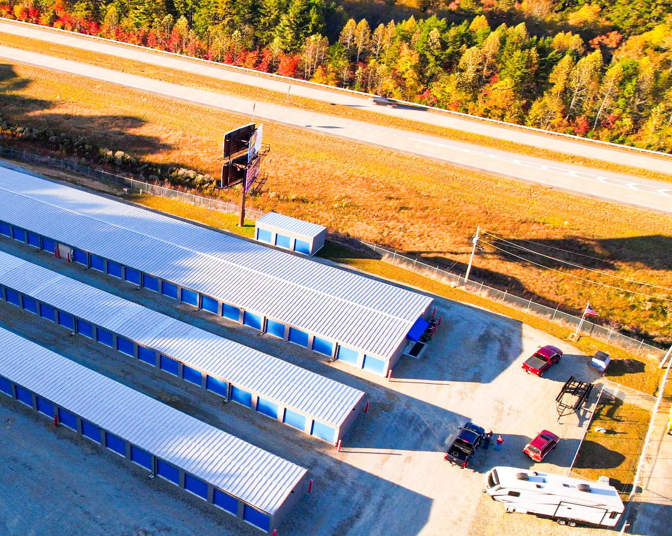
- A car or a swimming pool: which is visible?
car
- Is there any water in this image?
No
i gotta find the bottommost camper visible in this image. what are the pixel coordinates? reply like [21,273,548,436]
[488,468,627,532]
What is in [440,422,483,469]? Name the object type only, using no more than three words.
truck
